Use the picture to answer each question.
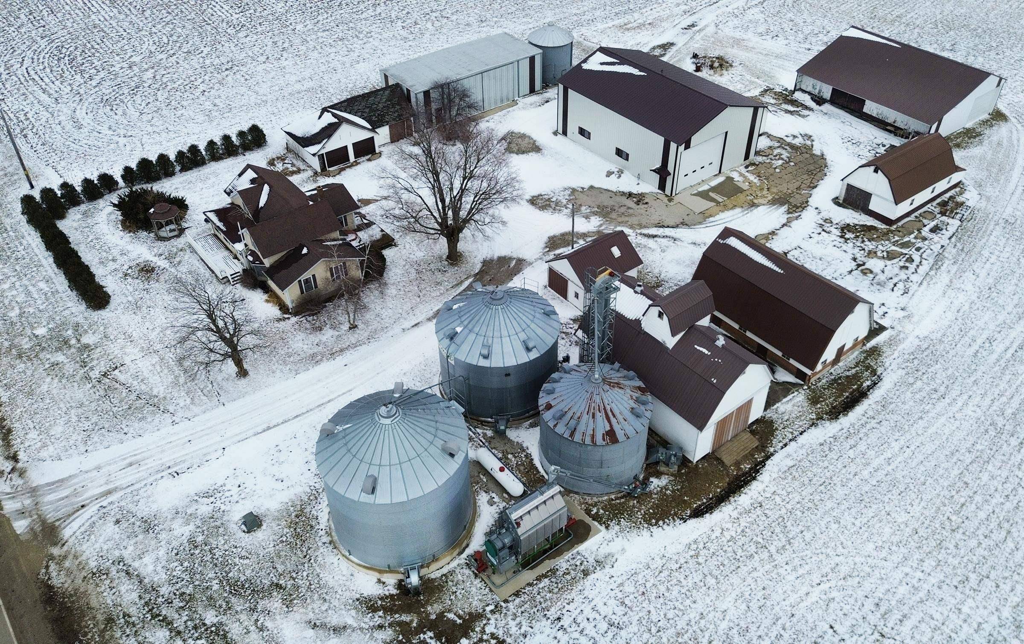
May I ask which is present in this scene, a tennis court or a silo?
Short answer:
silo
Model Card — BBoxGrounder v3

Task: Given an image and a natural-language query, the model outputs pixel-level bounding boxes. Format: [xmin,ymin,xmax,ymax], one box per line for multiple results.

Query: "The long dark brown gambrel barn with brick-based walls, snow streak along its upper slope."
[690,226,889,386]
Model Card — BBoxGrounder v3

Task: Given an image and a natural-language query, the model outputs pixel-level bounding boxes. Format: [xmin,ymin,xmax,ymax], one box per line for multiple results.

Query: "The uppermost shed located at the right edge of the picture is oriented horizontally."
[794,25,1007,140]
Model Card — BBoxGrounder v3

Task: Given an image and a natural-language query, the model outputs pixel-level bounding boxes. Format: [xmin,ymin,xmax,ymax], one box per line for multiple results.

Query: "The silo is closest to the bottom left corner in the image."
[315,384,478,575]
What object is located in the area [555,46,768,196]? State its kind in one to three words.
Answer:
shed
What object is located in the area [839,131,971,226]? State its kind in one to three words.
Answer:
barn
